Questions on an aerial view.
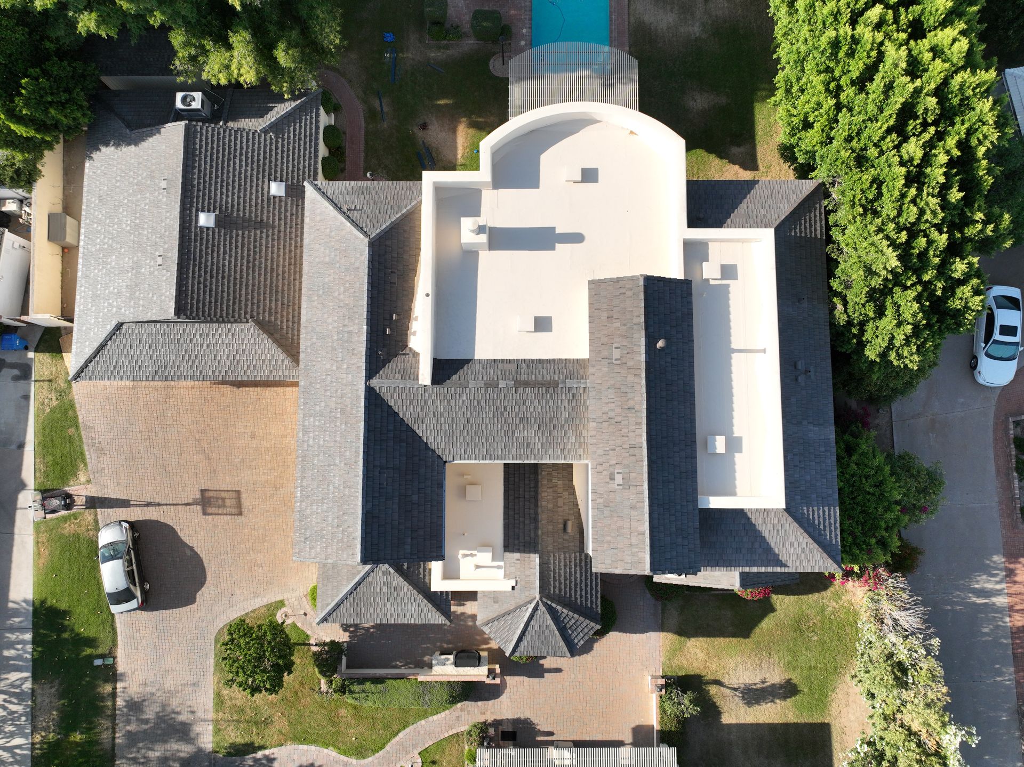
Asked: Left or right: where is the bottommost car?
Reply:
left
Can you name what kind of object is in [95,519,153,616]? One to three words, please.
car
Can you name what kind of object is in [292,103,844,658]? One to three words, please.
house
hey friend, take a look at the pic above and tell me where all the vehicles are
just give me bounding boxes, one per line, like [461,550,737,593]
[95,519,153,616]
[969,288,1023,385]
